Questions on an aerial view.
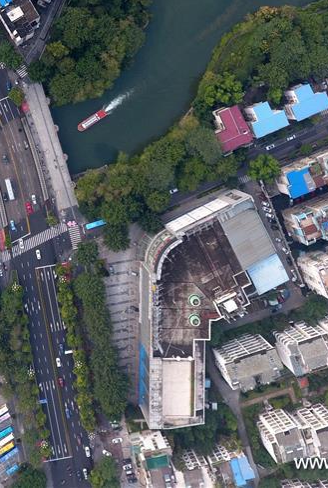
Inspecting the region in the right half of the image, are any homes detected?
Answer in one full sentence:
Yes, you'll find a home in the right half of the image.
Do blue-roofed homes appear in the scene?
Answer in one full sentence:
Yes, a blue-roofed home can be made out from above.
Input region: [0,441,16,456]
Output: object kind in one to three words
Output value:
vehicle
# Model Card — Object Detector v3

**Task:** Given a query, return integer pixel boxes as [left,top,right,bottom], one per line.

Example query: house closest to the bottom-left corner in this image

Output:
[133,423,175,488]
